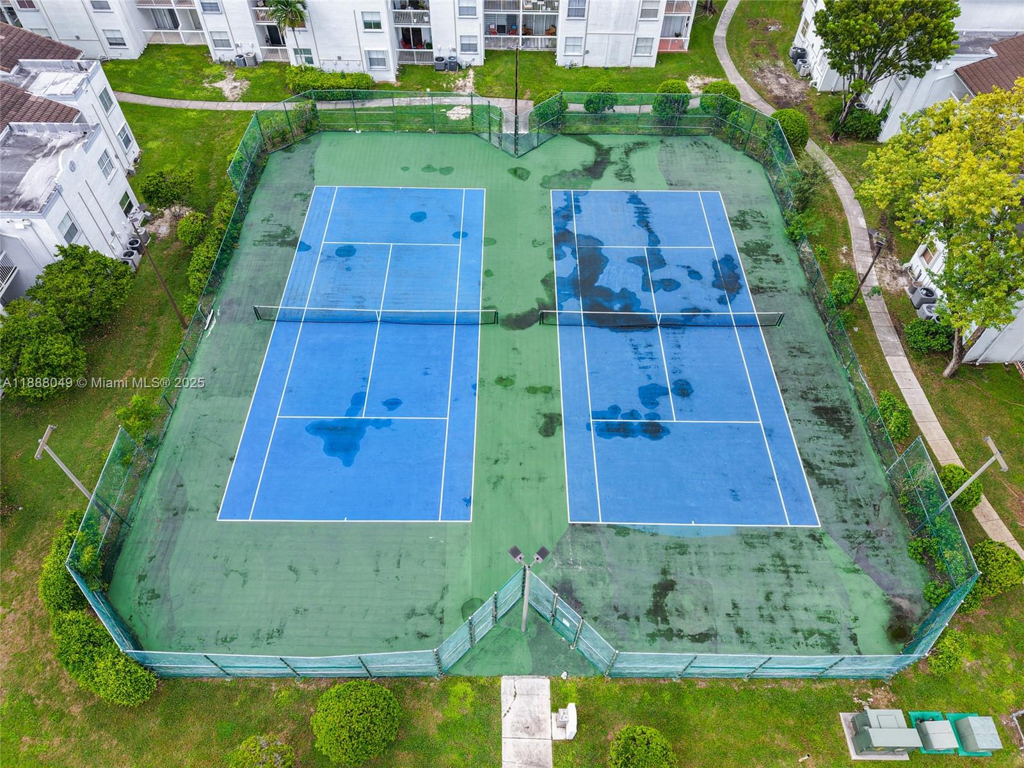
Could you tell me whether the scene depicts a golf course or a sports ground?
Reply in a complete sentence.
This image shows a sports ground.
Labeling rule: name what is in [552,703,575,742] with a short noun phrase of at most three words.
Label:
fountain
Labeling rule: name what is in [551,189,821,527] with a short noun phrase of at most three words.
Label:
tennis court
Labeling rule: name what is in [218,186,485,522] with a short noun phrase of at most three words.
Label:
tennis court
